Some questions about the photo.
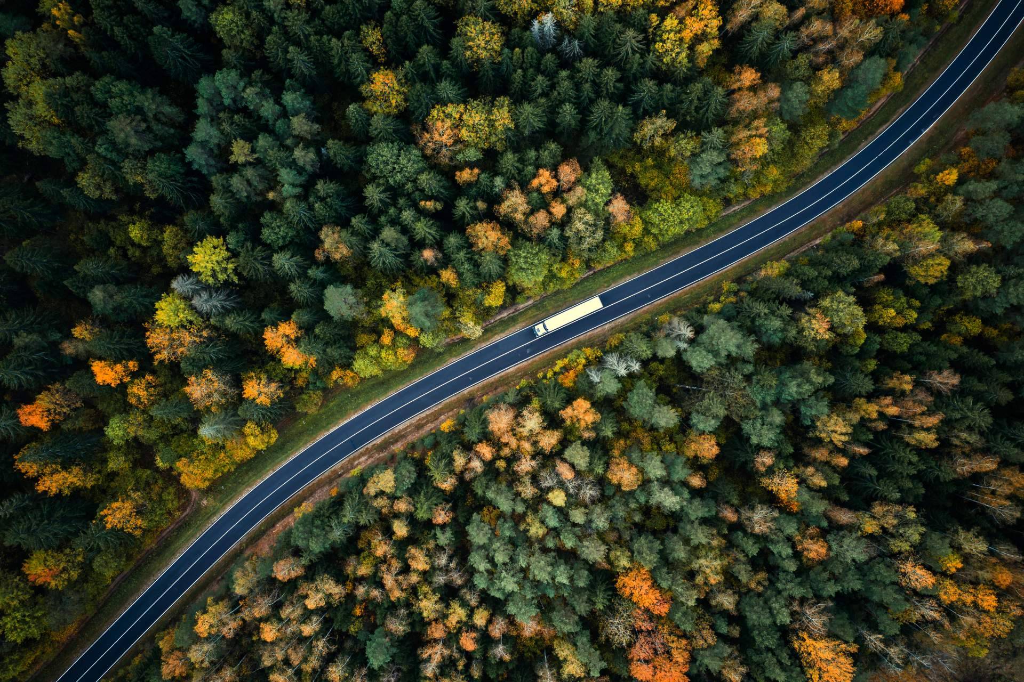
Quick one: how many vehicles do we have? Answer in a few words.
1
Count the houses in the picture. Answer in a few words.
0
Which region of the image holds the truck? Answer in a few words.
center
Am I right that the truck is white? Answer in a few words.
Yes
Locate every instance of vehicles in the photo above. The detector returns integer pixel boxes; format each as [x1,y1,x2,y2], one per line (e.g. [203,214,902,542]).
[531,297,603,338]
